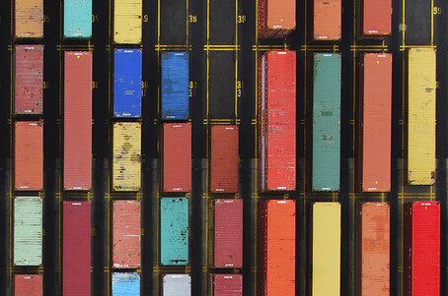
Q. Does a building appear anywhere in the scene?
No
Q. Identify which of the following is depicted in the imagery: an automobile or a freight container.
freight container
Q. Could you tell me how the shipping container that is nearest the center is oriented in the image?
from top to bottom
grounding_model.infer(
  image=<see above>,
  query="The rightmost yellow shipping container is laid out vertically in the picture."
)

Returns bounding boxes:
[404,47,435,188]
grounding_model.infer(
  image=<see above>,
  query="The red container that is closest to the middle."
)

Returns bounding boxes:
[209,124,239,195]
